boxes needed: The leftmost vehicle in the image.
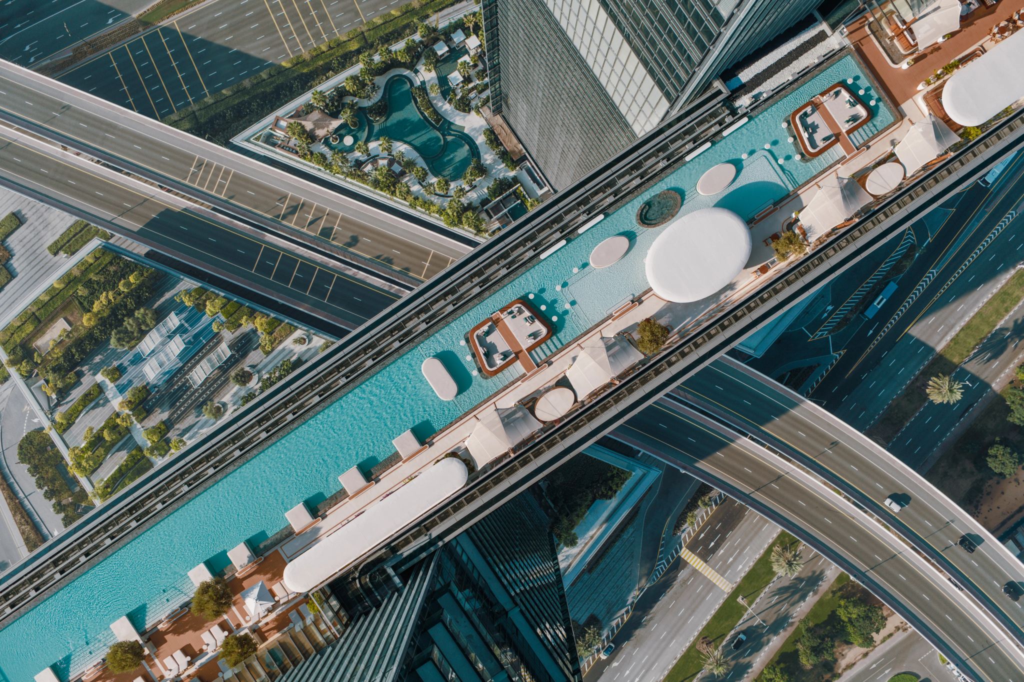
[600,641,615,659]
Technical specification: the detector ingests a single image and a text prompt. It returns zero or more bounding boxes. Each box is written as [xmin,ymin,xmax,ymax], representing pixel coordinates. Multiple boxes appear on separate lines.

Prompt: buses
[860,281,898,321]
[977,151,1020,188]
